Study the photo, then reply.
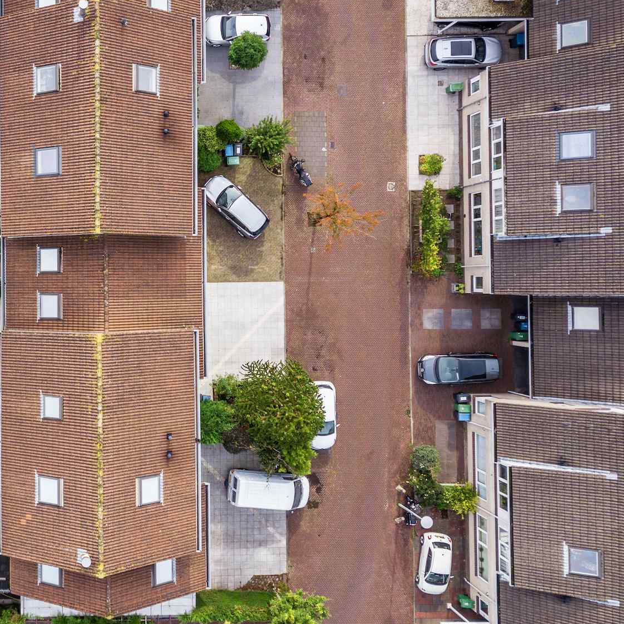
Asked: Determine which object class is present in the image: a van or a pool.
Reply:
van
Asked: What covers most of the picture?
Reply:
buildings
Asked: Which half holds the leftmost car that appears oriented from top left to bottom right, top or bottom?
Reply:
top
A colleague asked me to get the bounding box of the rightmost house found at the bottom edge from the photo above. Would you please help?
[468,394,624,624]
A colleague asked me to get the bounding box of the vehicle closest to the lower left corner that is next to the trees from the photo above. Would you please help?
[225,467,305,511]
